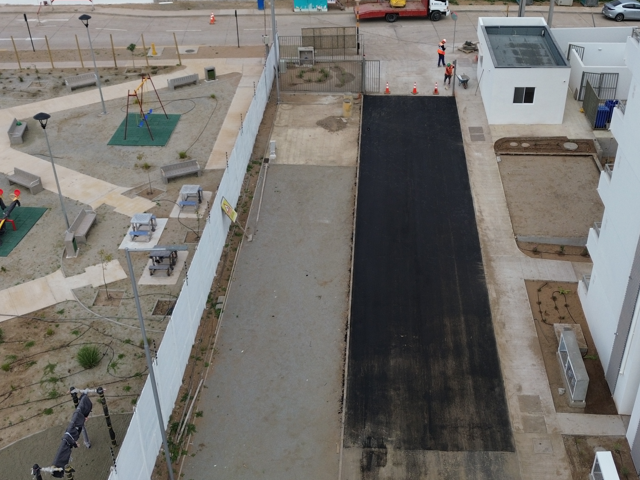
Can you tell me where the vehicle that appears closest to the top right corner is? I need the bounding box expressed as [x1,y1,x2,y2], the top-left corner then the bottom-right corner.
[604,0,640,23]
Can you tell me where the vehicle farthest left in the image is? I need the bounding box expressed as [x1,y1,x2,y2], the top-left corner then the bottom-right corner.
[350,0,452,23]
